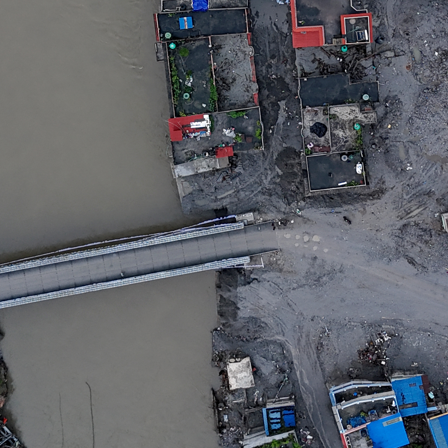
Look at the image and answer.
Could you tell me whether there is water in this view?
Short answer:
Yes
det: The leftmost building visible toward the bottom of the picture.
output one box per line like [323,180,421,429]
[226,352,255,391]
